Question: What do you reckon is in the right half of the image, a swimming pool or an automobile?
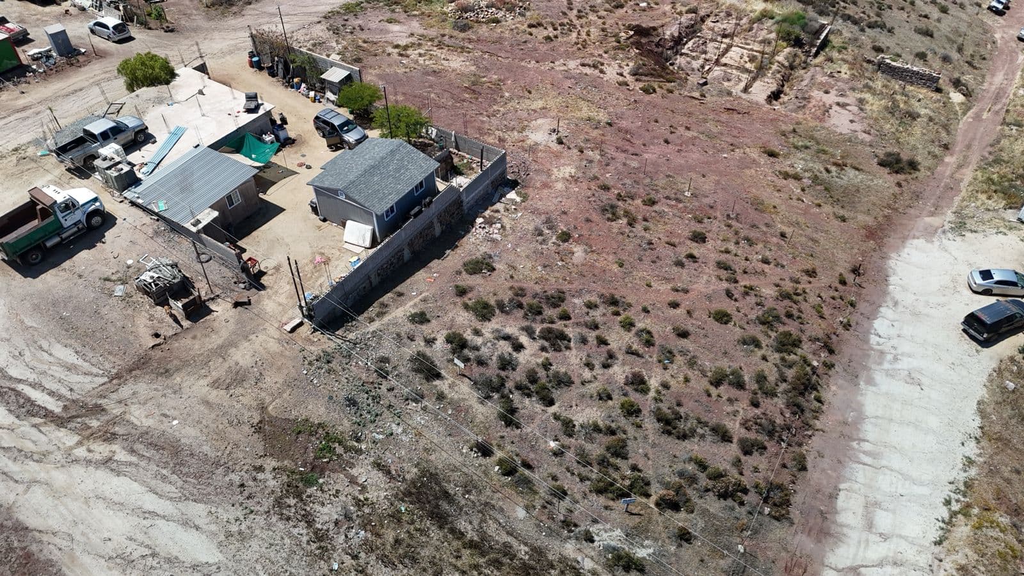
automobile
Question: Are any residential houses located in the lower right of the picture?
No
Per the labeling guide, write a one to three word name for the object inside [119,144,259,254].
house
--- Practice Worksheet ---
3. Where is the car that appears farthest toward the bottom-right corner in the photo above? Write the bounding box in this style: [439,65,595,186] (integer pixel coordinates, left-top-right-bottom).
[968,294,1024,342]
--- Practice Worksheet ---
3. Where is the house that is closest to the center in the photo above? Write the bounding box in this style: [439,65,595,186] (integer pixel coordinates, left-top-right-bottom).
[308,138,441,241]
